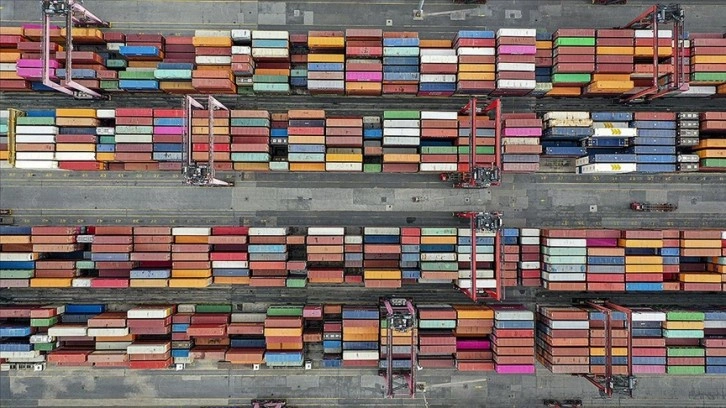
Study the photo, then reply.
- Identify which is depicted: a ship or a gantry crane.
gantry crane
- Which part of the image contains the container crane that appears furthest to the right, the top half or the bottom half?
top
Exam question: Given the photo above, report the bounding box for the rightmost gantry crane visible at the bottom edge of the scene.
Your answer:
[569,299,639,399]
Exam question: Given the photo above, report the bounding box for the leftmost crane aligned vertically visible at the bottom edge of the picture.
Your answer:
[377,299,420,399]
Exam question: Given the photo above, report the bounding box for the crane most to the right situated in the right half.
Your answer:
[611,1,688,104]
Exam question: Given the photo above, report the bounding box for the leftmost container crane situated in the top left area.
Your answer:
[37,0,113,99]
